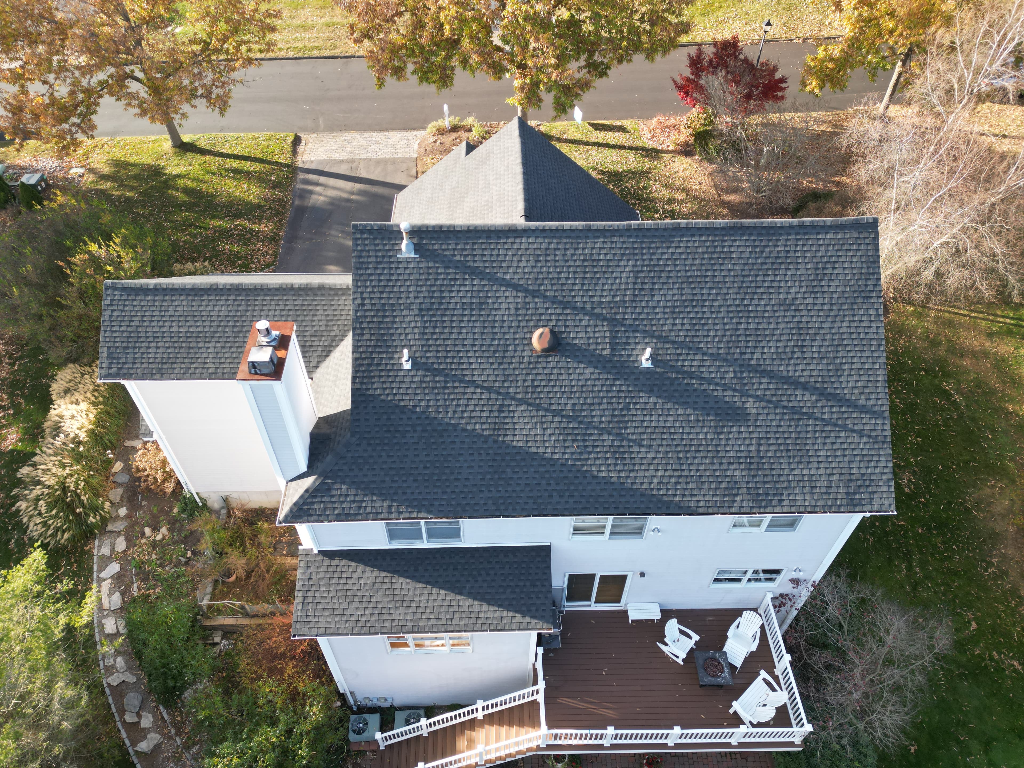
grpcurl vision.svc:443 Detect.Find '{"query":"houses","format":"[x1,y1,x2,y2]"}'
[98,118,900,714]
